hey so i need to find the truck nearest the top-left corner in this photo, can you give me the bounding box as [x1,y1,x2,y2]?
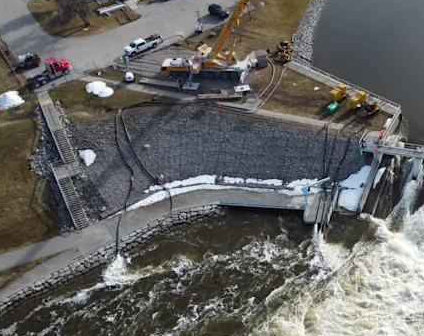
[7,45,44,68]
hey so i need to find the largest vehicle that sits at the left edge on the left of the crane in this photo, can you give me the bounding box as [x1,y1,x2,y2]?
[19,61,71,97]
